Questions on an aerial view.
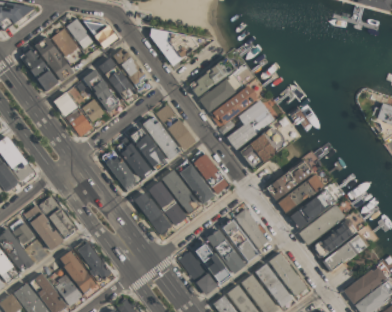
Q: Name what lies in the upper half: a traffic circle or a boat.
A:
boat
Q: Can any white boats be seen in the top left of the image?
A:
No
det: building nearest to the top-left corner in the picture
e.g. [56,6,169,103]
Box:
[0,2,34,30]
